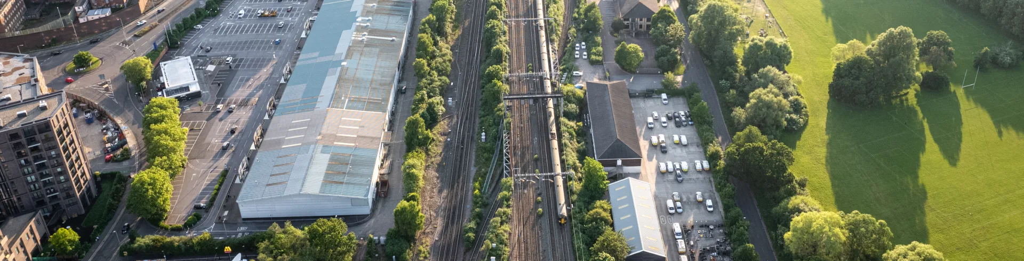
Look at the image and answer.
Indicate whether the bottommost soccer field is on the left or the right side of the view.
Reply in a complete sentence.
The bottommost soccer field sits on the right side.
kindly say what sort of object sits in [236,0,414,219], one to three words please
warehouse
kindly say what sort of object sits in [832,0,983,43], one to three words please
soccer field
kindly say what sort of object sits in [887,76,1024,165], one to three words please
sports field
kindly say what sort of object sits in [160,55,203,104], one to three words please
building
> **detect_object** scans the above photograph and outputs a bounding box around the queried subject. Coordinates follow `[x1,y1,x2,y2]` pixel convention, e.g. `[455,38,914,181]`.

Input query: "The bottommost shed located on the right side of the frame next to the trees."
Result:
[609,178,667,261]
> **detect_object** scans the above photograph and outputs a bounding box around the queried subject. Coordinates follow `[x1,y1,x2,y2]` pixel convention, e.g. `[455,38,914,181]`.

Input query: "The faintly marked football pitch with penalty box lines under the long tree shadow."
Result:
[855,131,976,209]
